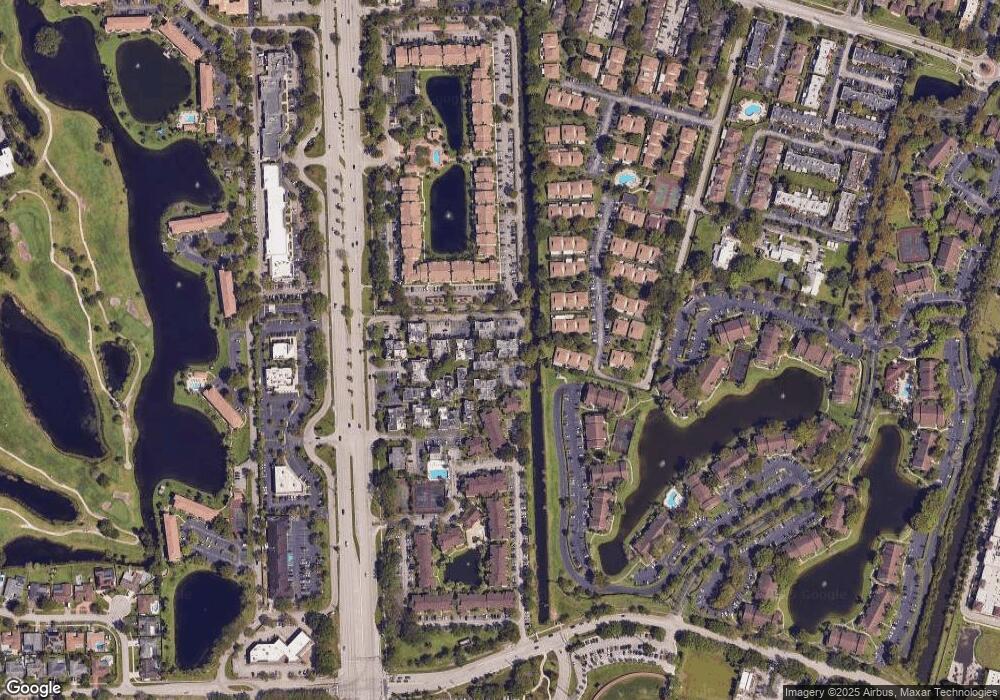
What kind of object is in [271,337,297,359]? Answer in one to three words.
building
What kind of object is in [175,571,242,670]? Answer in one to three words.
pond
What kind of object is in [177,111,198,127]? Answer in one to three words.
swimming pool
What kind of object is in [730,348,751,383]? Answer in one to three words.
tennis court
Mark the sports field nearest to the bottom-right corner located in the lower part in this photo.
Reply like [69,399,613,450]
[682,650,737,700]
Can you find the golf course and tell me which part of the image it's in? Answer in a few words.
left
